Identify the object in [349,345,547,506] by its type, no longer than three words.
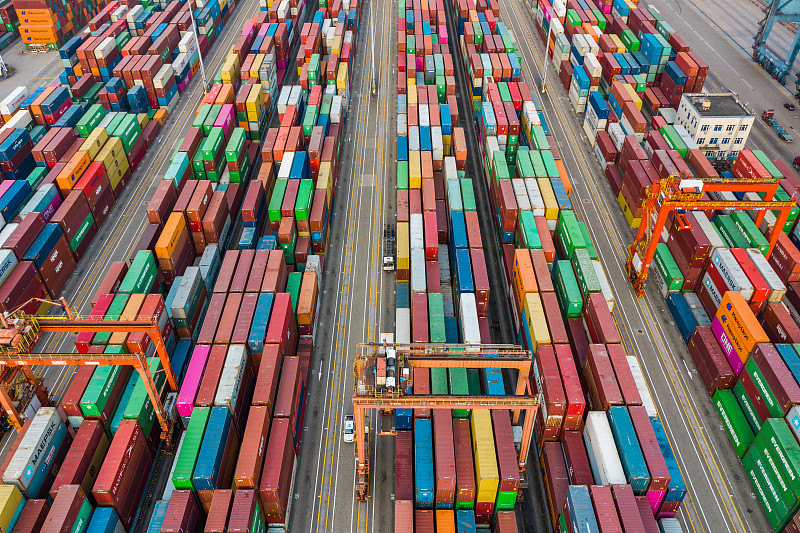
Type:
container crane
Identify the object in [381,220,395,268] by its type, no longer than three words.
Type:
vehicle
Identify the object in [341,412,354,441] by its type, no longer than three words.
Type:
vehicle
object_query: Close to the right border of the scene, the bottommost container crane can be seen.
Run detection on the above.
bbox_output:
[620,175,791,292]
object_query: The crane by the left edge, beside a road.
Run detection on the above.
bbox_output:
[0,299,184,460]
